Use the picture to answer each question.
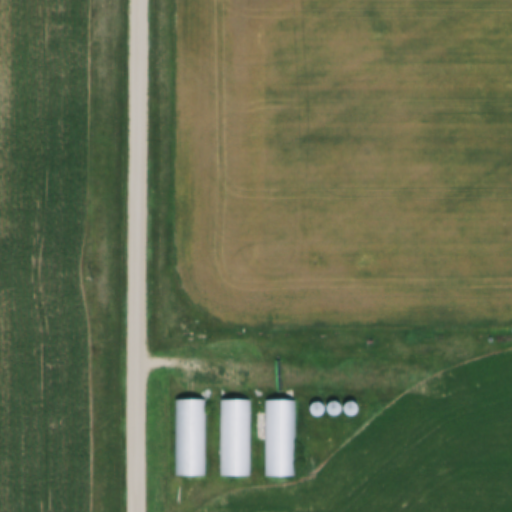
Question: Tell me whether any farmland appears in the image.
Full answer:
Yes, some farmland is visible.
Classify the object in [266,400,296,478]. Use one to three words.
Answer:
barn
